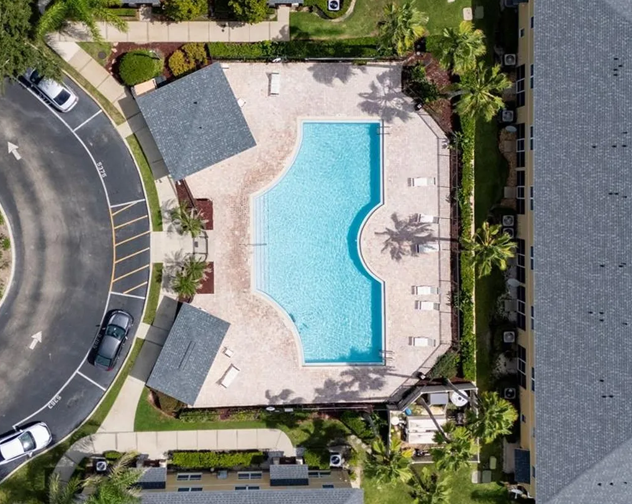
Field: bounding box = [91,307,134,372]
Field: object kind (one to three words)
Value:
car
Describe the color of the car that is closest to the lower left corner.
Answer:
white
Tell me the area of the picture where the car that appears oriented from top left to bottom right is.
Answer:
top left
